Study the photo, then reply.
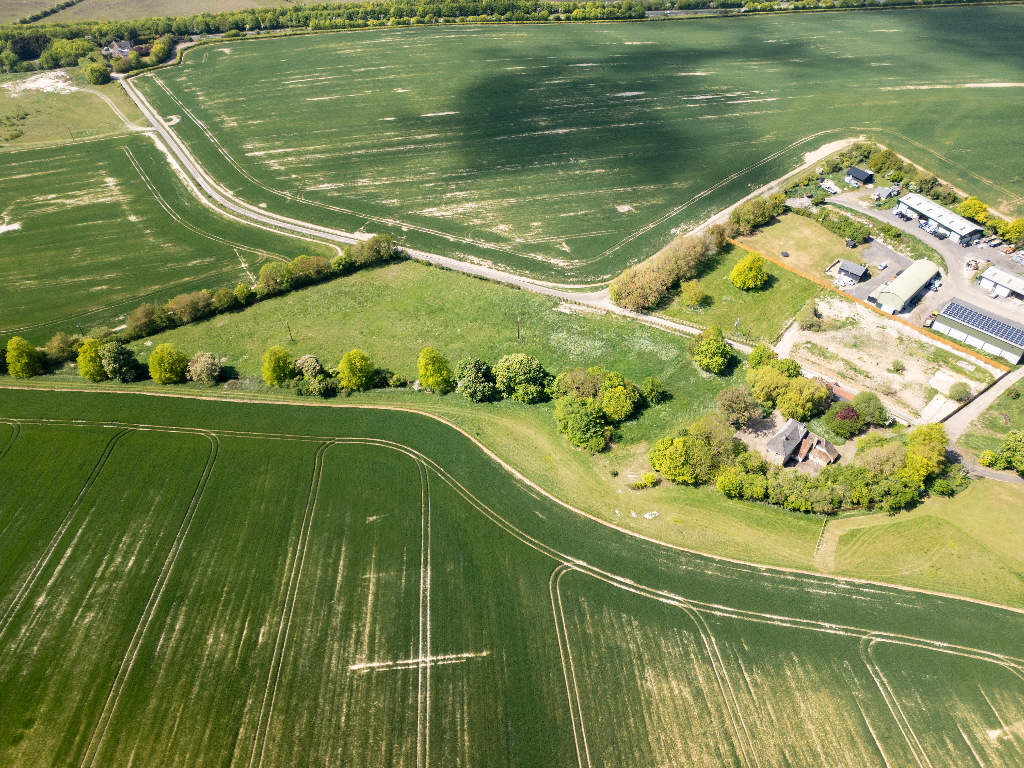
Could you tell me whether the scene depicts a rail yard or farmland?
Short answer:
farmland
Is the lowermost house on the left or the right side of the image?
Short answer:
right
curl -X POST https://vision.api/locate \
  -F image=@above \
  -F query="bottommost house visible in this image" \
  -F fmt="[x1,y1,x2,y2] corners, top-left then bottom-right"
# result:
[763,419,844,468]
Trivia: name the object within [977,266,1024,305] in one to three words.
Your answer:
shed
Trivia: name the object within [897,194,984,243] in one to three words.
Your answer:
shed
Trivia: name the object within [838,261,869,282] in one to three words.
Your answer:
building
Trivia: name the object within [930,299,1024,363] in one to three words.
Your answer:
barn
